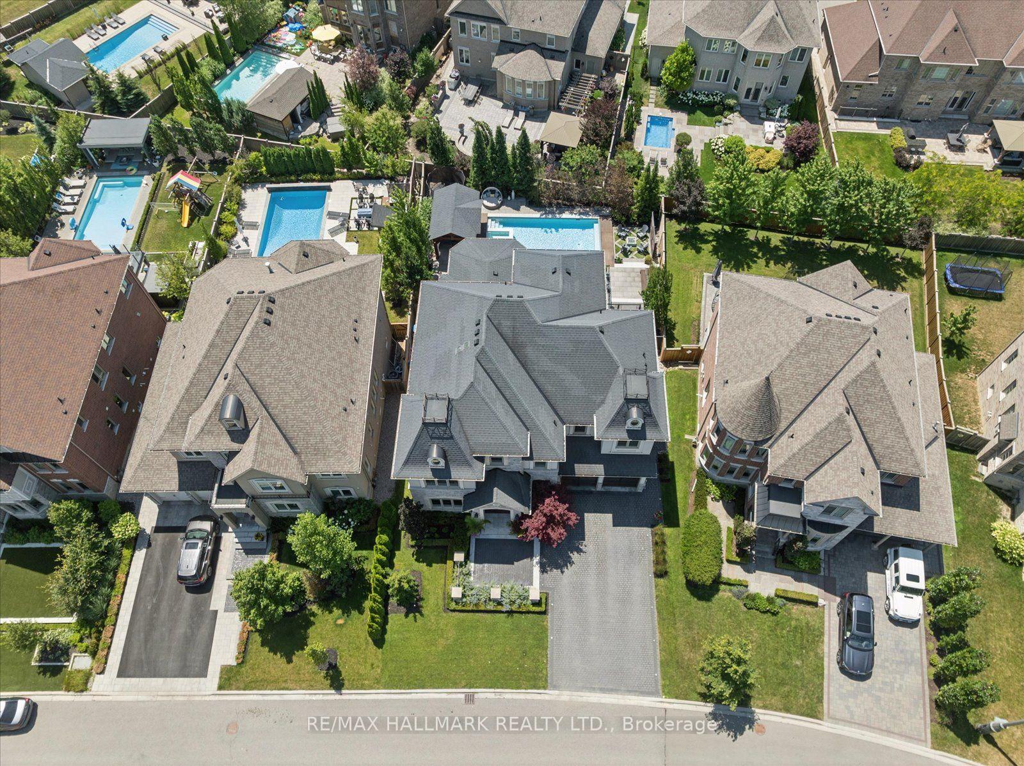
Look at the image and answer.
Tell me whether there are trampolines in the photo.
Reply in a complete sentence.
Yes, there is a trampoline in the image.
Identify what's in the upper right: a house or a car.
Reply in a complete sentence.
Looking in the upper right, you will find a house.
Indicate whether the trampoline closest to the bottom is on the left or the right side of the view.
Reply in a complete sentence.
The trampoline closest to the bottom is on the right side of the image.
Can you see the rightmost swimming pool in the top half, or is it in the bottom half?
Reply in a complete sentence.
The rightmost swimming pool sits in the top half of the picture.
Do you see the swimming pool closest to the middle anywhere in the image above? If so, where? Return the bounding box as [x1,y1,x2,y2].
[484,214,602,250]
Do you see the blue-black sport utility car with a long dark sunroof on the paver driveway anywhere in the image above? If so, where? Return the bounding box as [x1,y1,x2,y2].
[838,594,882,682]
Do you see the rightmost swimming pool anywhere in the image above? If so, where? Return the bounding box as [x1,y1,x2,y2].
[641,113,676,150]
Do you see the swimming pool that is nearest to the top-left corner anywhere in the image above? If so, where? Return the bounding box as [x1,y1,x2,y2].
[80,11,183,78]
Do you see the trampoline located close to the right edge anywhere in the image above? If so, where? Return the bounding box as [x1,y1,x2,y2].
[941,250,1015,299]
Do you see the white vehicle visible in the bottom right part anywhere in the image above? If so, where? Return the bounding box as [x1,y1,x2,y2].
[886,545,931,627]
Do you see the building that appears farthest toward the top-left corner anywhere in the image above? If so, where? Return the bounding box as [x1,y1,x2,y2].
[6,38,98,112]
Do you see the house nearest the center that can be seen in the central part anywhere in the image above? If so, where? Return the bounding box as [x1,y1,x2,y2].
[389,237,671,526]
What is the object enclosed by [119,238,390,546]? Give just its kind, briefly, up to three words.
house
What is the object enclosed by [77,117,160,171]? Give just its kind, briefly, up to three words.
building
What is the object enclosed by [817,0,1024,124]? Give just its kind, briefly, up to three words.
house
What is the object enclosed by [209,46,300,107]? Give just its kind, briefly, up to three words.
swimming pool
